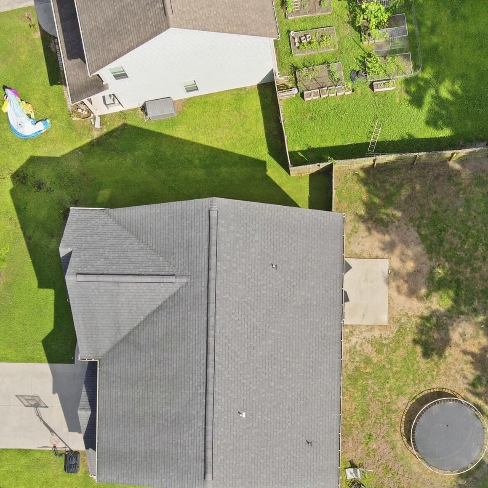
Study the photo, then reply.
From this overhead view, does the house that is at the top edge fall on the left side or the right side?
left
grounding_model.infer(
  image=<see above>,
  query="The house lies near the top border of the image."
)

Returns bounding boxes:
[48,0,281,123]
